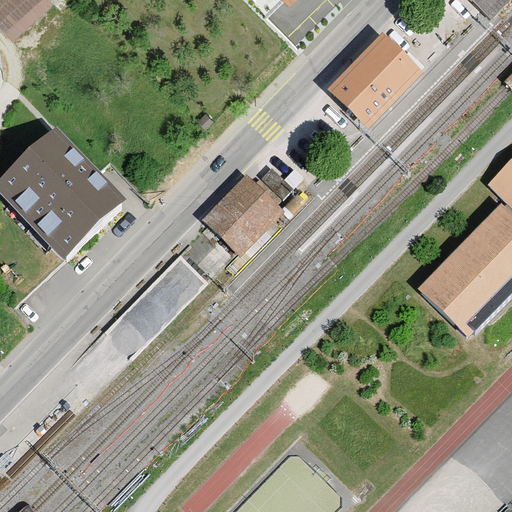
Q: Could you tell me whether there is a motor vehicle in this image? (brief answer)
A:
Yes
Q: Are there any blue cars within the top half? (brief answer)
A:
Yes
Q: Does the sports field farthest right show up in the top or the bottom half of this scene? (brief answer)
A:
bottom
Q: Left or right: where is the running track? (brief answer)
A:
right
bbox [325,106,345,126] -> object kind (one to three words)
vehicle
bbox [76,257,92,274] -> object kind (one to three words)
car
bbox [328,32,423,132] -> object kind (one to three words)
building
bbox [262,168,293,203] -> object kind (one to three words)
building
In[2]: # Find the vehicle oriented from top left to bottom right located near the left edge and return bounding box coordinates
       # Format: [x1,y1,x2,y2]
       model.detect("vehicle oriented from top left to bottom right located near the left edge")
[21,304,38,322]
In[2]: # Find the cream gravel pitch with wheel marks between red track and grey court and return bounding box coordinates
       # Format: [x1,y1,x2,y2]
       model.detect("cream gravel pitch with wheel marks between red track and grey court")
[400,458,508,512]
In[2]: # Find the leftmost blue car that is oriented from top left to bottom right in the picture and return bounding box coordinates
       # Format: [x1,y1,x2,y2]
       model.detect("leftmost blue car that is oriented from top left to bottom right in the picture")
[274,158,290,174]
